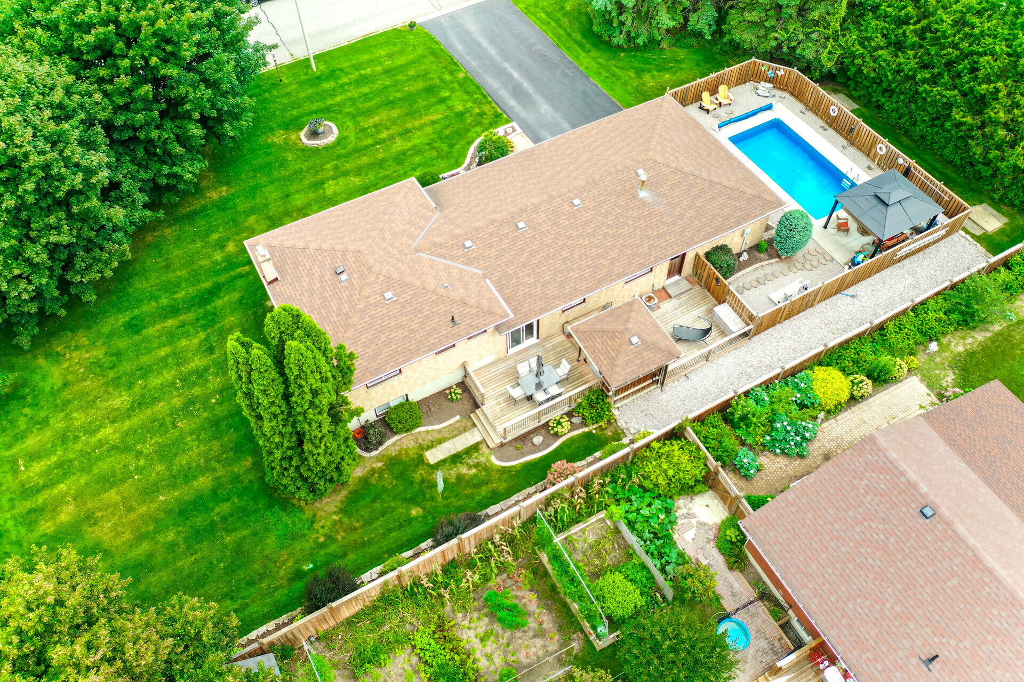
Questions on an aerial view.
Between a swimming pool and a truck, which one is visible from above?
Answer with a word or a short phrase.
swimming pool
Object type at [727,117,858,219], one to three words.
swimming pool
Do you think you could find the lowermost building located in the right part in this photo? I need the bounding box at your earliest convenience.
[736,385,1024,682]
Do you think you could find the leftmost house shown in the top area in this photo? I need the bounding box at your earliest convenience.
[242,95,786,421]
